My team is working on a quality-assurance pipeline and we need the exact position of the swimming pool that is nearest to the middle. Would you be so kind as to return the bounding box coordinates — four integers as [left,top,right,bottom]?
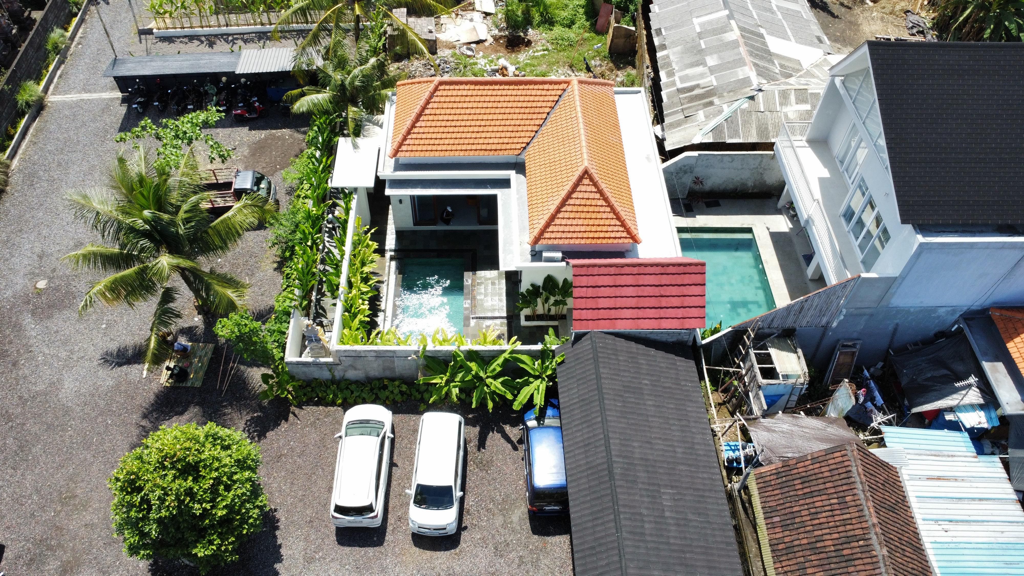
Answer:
[386,254,477,346]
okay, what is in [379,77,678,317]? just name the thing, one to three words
house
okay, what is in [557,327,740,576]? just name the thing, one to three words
building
